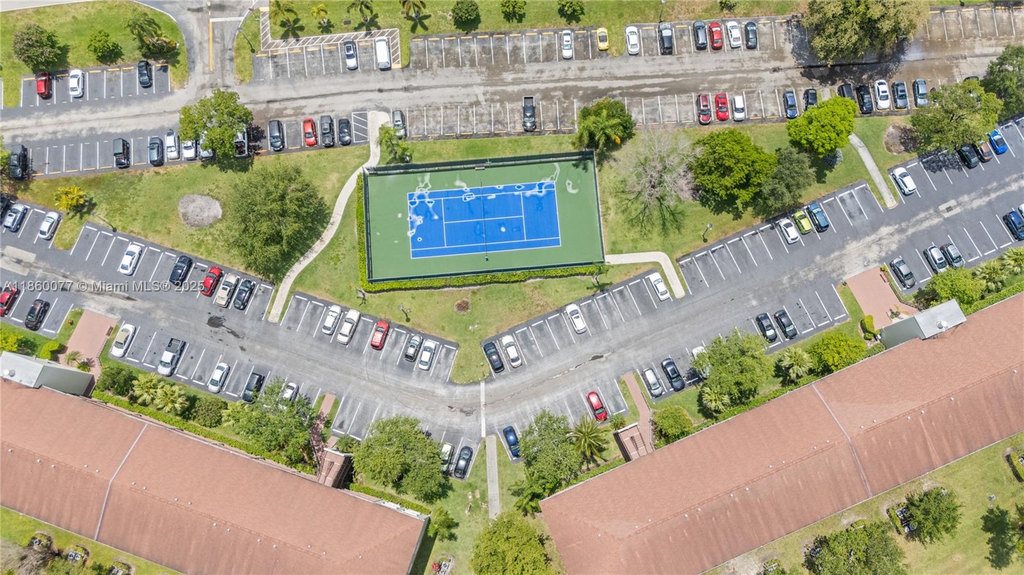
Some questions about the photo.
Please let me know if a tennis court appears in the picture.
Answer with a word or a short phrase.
Yes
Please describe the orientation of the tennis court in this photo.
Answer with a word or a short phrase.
from left to right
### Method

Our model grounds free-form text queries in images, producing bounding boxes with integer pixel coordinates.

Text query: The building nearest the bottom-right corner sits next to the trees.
[538,289,1024,575]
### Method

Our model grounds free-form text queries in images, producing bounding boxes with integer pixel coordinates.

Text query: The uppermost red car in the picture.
[708,24,722,50]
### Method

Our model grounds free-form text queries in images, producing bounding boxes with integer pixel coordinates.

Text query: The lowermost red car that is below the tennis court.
[586,389,609,423]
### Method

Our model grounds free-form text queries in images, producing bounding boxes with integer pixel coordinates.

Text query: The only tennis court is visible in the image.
[368,161,600,280]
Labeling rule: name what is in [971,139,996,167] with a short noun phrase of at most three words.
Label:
car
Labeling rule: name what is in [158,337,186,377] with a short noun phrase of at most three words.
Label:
truck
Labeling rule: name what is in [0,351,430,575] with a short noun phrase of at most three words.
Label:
building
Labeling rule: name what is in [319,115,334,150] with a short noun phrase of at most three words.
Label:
vehicle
